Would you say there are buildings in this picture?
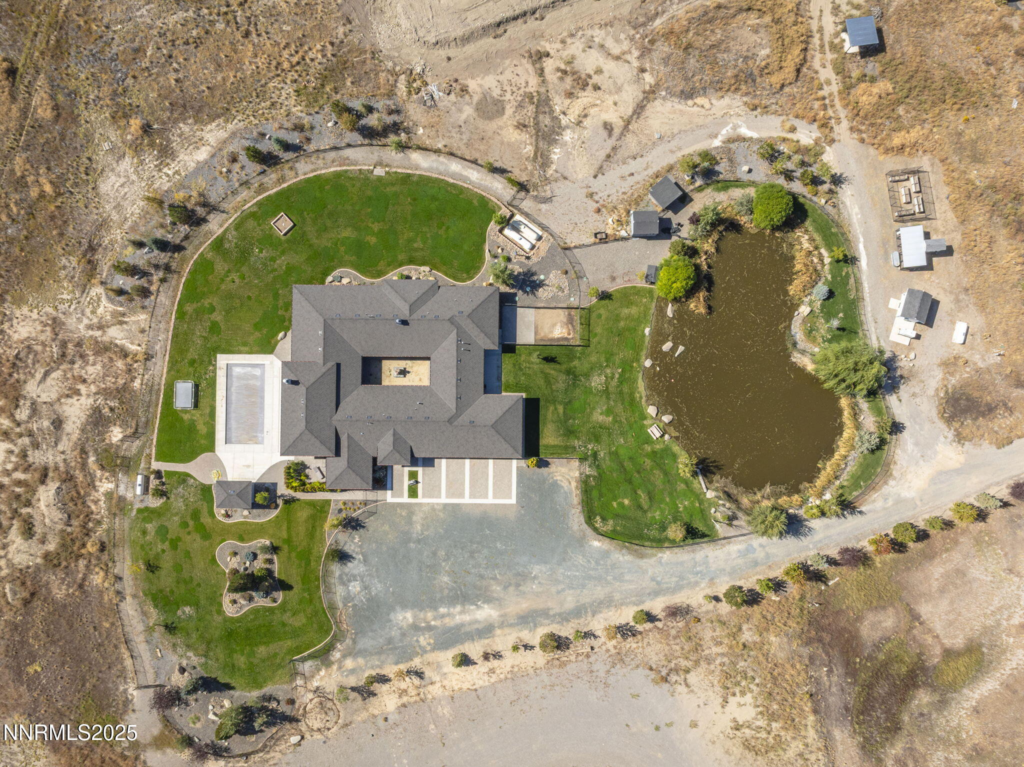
Yes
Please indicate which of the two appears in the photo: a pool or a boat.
pool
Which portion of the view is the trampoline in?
left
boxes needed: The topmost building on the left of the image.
[280,279,525,490]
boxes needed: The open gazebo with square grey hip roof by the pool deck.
[214,479,257,509]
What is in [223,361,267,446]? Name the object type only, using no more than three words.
swimming pool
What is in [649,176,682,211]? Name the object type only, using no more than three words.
shed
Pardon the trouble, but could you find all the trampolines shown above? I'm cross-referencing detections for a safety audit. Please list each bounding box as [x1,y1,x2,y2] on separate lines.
[174,381,197,409]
